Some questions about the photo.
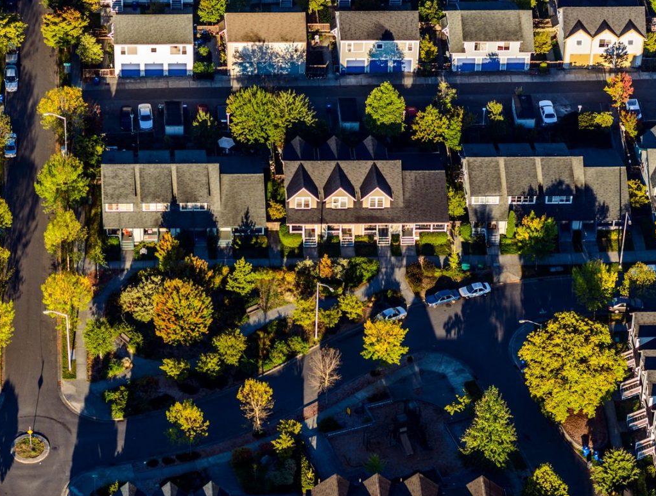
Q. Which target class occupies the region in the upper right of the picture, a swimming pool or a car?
car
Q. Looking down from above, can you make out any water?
No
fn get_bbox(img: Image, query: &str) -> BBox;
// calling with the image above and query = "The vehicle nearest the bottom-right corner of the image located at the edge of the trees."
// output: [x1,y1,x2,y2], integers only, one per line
[608,293,646,312]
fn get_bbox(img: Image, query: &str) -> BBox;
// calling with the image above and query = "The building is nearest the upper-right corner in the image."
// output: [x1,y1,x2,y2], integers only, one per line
[553,0,645,70]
